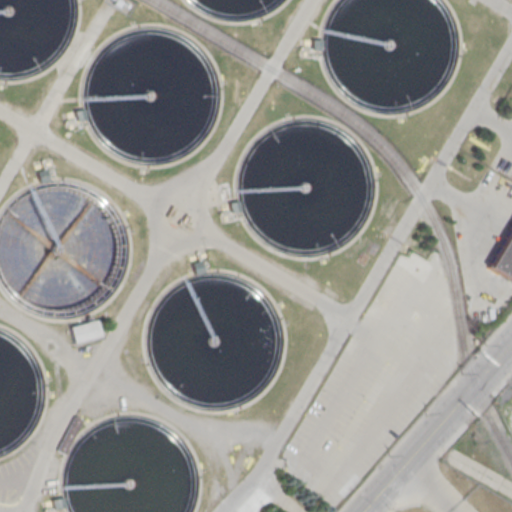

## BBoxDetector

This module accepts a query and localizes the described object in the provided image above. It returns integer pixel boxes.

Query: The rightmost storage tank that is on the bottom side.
[142,268,287,415]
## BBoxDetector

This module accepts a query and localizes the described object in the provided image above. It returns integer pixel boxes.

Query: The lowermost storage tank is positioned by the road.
[58,411,204,512]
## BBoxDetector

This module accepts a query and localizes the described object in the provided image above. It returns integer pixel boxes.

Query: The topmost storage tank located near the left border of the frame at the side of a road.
[0,0,82,85]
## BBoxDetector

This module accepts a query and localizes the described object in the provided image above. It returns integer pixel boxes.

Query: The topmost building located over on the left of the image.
[73,320,106,345]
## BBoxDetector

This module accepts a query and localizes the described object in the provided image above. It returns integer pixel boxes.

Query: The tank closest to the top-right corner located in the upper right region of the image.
[319,0,462,118]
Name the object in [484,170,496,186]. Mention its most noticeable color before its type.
white vehicle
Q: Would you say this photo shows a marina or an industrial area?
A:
industrial area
